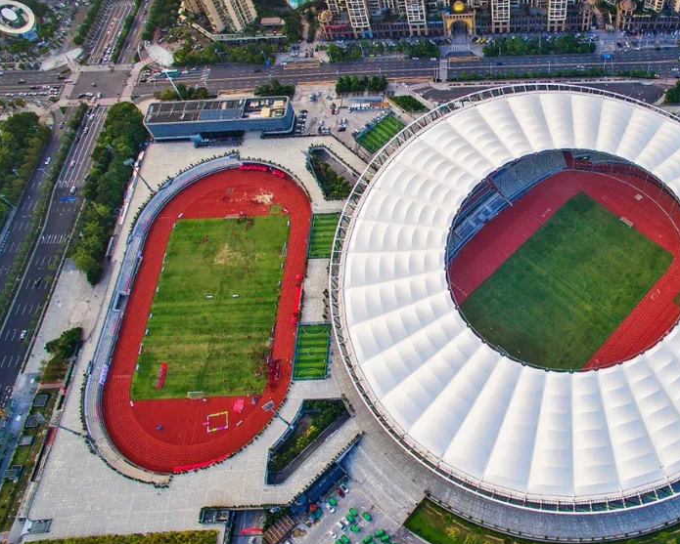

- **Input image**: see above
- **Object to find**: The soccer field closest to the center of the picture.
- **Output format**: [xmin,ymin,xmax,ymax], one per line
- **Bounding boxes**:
[304,210,341,259]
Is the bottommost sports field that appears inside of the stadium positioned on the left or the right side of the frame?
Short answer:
right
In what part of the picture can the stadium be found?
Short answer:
right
